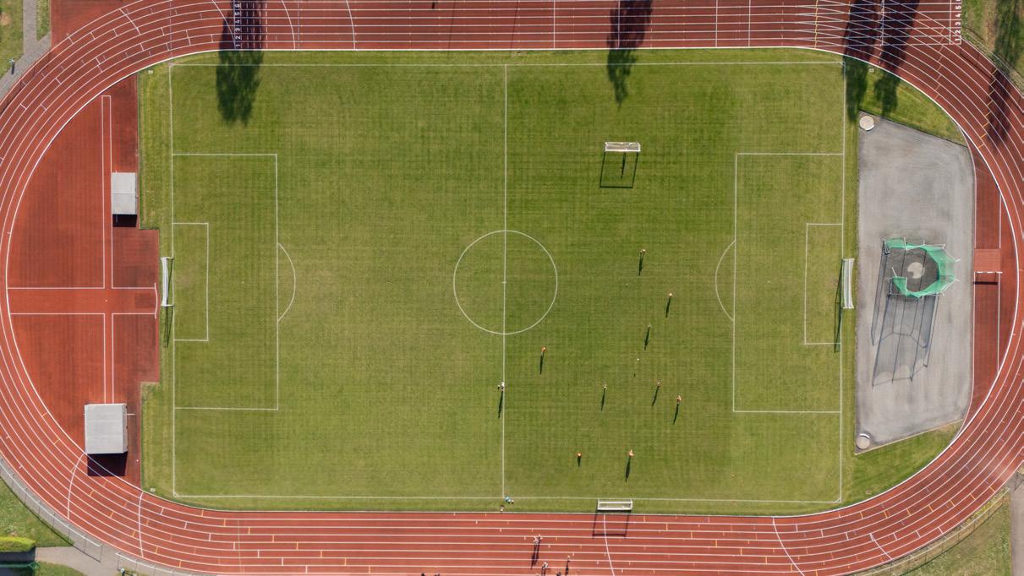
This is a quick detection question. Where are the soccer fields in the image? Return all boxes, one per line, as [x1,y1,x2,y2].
[137,47,967,516]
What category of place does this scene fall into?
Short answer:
sports ground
